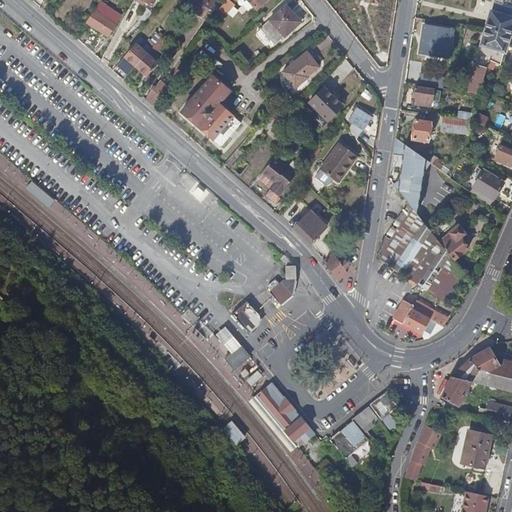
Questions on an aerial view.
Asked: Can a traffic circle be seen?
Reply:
No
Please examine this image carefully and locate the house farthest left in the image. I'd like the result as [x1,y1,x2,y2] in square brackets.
[86,2,122,38]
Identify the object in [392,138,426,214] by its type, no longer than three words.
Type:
building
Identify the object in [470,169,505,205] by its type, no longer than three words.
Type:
house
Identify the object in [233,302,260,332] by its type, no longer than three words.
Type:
building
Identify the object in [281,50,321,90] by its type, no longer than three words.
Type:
house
